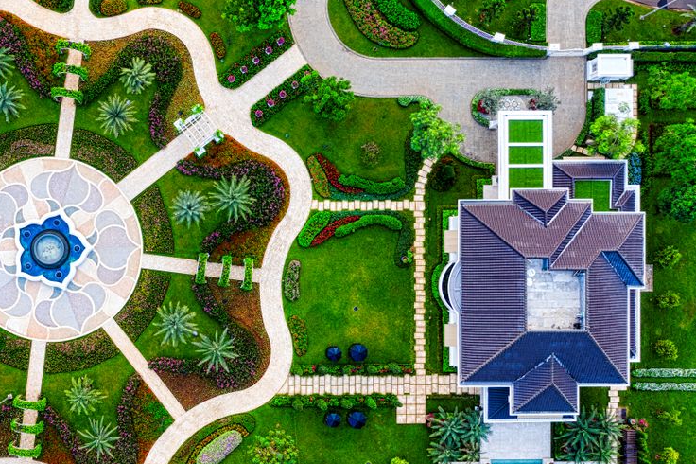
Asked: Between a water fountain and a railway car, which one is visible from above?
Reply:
water fountain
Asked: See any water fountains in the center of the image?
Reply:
No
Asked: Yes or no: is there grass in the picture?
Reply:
Yes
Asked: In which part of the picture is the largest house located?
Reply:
right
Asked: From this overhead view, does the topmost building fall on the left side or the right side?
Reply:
right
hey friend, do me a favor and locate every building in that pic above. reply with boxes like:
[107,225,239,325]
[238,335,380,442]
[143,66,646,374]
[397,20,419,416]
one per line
[432,111,653,423]
[587,53,633,88]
